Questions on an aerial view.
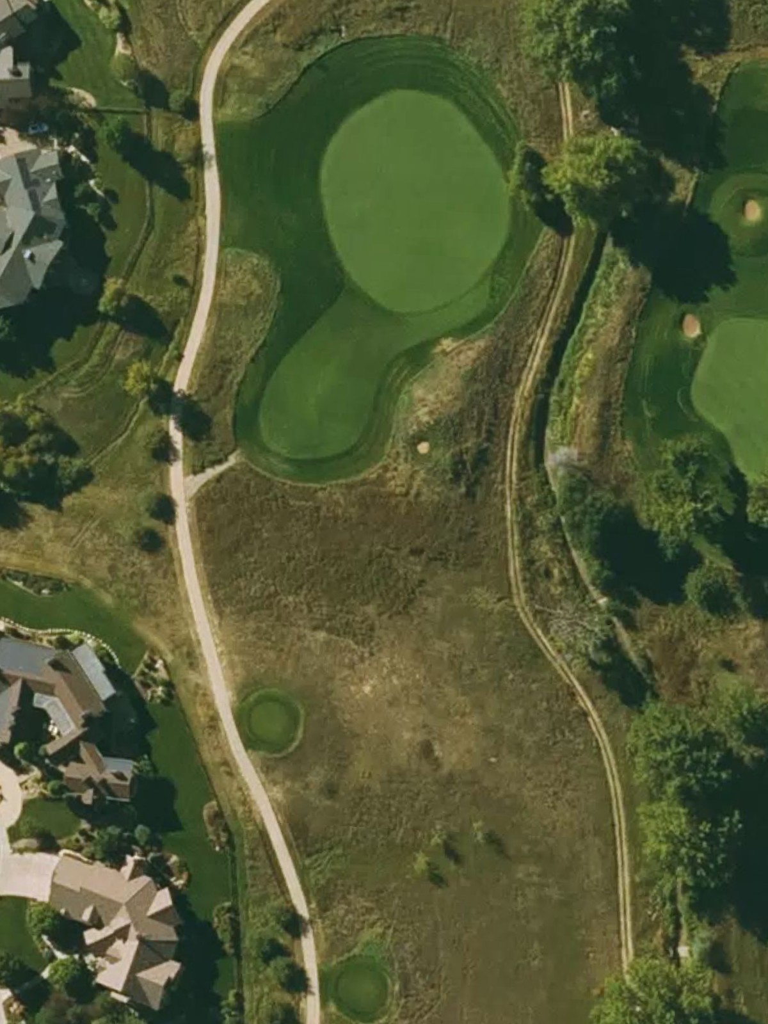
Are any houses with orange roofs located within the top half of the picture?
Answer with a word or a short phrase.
No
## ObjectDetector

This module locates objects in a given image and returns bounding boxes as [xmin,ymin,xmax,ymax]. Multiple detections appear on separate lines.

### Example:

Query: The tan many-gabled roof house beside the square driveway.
[49,855,182,1011]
